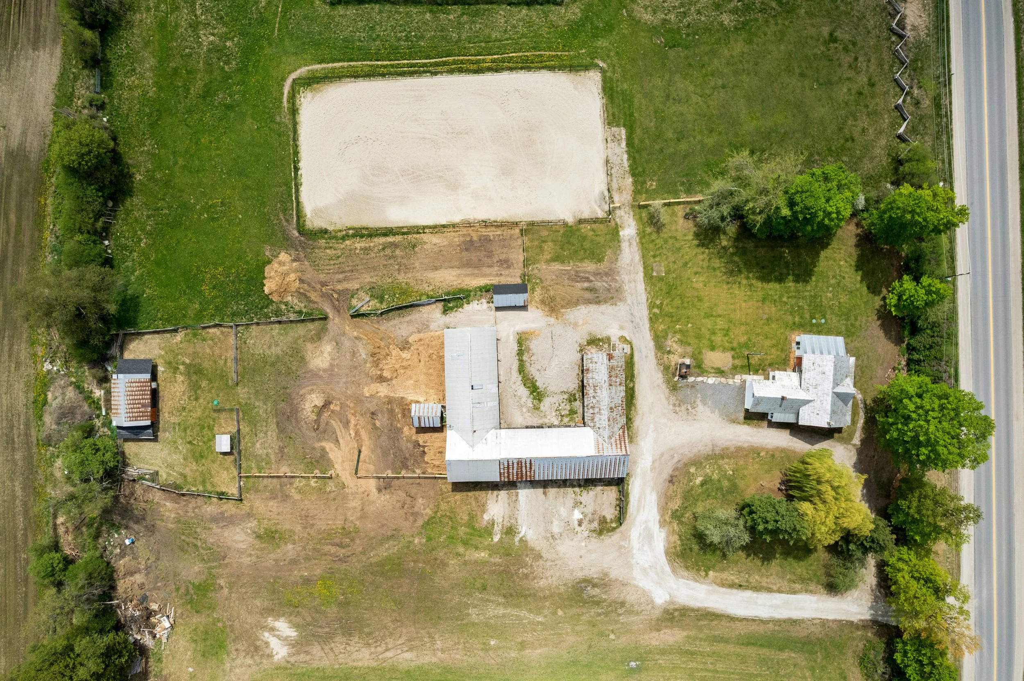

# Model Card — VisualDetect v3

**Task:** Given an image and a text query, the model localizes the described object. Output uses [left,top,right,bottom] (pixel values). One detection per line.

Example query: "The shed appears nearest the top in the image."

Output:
[493,284,528,307]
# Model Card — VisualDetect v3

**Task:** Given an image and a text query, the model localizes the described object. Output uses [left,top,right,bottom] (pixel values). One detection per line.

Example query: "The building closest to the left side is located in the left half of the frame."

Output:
[112,359,160,439]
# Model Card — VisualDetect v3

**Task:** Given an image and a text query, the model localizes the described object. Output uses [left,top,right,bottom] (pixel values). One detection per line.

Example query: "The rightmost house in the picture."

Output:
[744,335,858,428]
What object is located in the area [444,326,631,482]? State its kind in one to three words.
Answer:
barn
